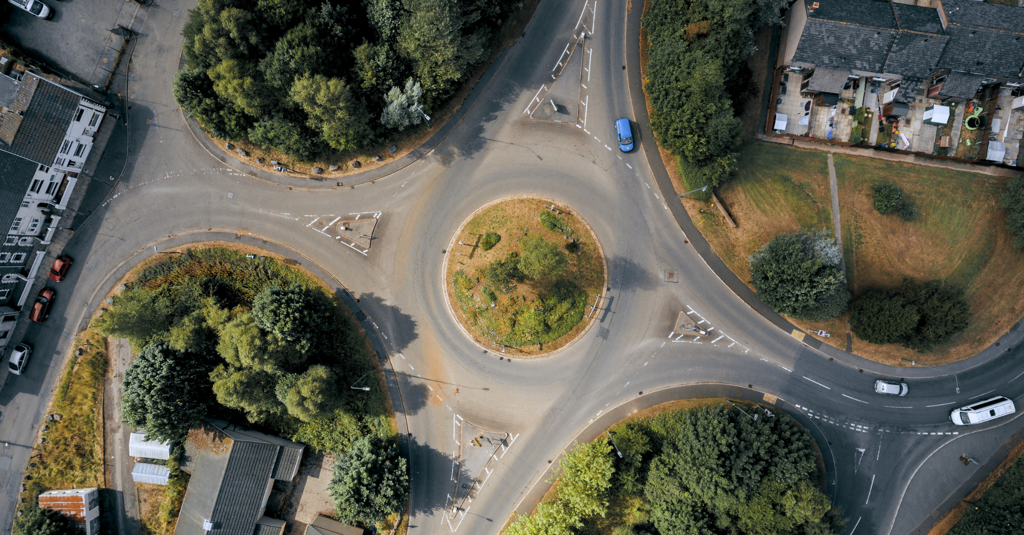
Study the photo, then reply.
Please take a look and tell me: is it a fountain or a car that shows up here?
car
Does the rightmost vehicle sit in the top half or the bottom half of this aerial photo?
bottom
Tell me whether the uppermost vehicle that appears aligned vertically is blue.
Yes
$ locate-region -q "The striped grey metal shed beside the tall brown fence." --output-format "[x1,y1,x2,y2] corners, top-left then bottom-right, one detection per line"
[977,140,1007,164]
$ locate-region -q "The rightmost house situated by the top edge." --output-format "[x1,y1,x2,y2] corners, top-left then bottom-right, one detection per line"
[979,2,1024,114]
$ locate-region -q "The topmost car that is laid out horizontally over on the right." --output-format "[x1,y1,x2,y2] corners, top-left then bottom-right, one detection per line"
[873,380,907,397]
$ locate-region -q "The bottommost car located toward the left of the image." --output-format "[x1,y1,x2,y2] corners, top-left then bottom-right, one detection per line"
[7,342,34,375]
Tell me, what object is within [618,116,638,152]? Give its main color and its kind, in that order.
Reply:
blue vehicle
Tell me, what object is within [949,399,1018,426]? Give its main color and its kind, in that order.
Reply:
white vehicle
